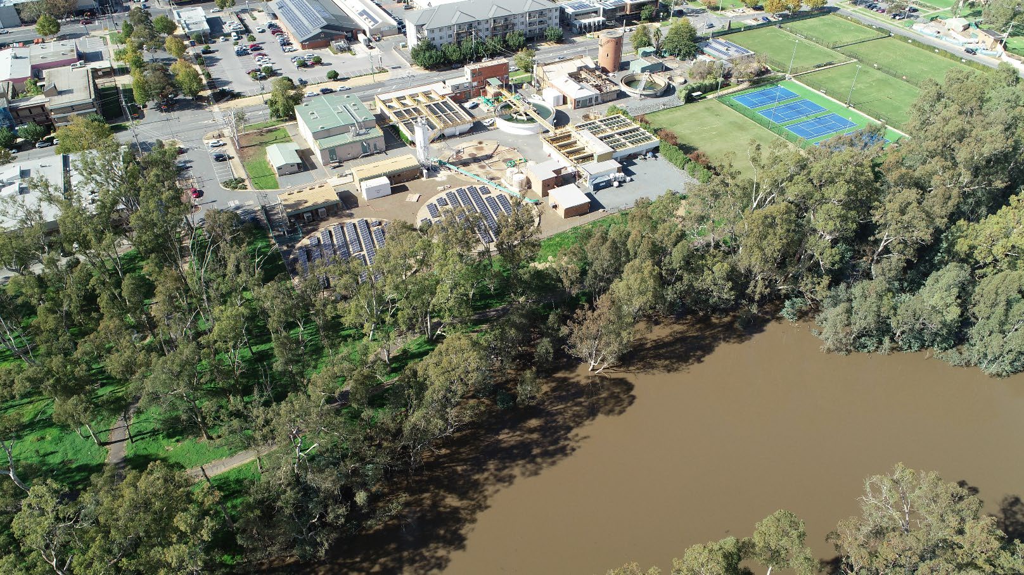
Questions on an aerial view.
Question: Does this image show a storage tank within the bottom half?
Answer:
No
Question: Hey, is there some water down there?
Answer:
Yes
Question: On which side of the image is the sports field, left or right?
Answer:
right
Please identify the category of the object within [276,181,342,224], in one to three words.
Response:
building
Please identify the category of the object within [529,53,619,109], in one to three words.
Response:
building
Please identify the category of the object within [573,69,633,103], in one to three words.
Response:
storage tank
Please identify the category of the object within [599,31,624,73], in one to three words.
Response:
water tower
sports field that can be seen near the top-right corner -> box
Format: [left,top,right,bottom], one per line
[696,14,1024,186]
